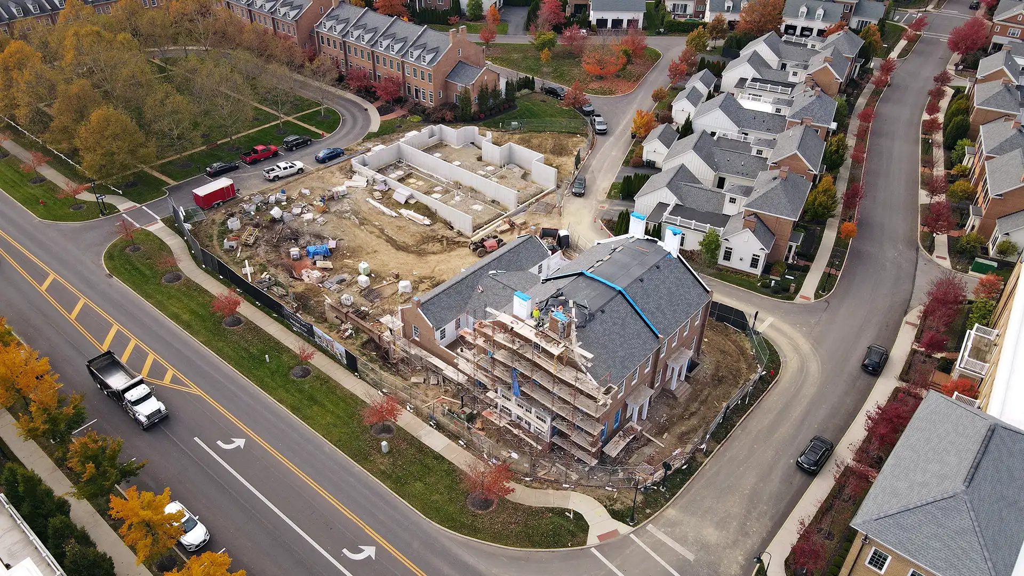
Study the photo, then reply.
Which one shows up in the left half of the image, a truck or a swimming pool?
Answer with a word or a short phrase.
truck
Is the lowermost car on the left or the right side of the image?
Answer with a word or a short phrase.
left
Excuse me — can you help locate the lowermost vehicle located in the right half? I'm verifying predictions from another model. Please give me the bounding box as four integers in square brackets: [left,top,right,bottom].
[795,430,838,475]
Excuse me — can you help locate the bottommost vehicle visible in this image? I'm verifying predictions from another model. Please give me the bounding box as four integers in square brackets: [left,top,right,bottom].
[157,491,208,546]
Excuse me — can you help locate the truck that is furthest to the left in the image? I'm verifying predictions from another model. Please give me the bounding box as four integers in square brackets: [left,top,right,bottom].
[82,349,167,429]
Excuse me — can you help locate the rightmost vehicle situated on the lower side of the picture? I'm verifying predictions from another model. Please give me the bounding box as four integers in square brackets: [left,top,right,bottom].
[862,341,895,376]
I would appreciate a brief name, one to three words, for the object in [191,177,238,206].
trailer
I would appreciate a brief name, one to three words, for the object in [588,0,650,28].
house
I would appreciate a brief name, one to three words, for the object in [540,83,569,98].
vehicle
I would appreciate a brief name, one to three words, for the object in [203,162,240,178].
car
